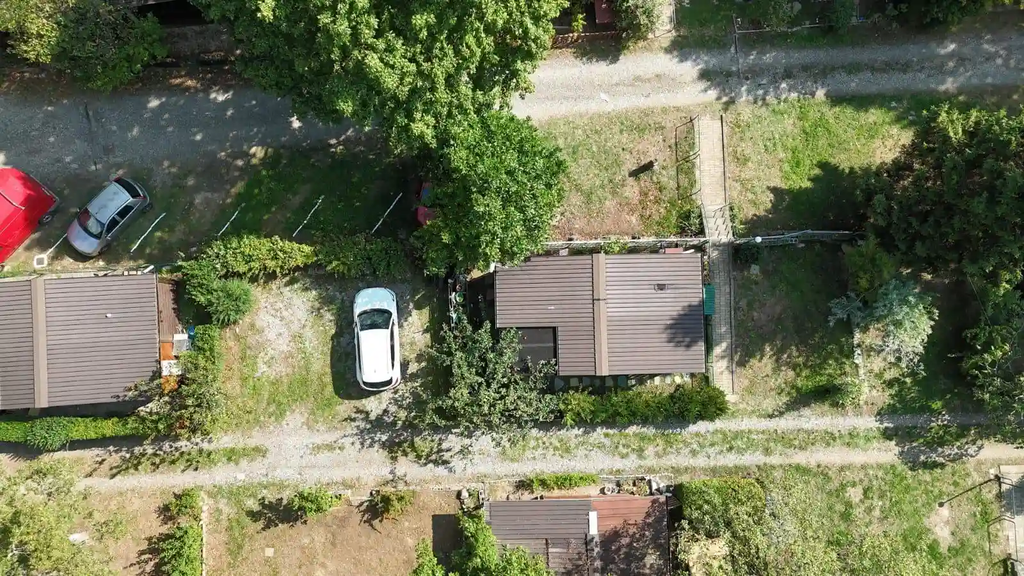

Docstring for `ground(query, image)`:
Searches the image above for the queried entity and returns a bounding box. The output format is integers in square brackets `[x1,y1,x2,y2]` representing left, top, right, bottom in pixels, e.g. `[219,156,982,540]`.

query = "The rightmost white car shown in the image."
[348,287,404,390]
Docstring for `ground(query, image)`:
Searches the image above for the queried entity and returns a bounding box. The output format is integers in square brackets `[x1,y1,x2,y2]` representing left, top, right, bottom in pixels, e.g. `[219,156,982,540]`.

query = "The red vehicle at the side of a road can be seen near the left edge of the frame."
[0,168,57,270]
